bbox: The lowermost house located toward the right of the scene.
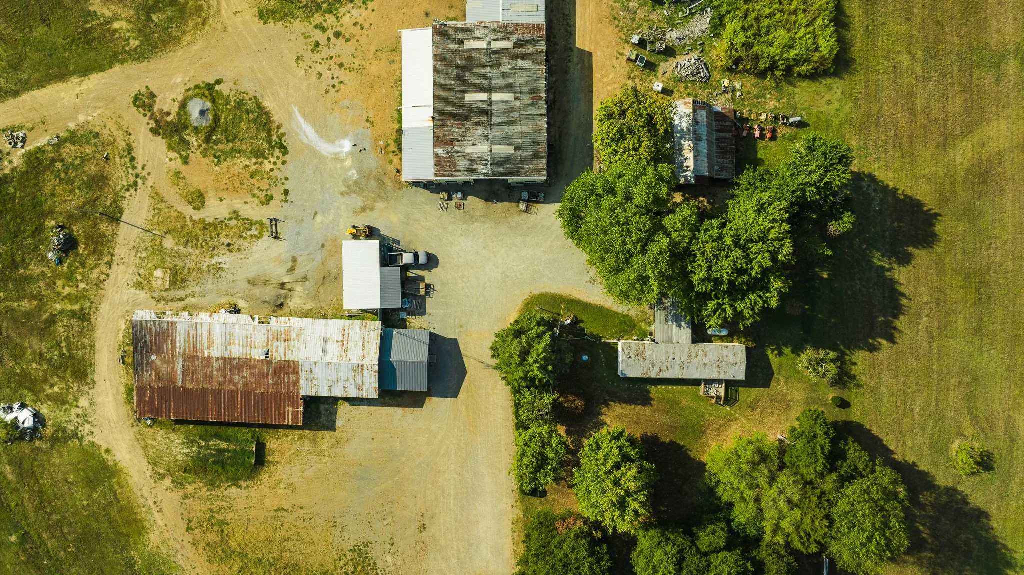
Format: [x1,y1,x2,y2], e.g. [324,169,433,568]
[618,341,746,380]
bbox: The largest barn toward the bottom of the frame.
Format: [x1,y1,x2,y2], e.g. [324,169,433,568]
[128,311,385,425]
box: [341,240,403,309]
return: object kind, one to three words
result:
shed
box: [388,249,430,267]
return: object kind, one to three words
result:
vehicle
